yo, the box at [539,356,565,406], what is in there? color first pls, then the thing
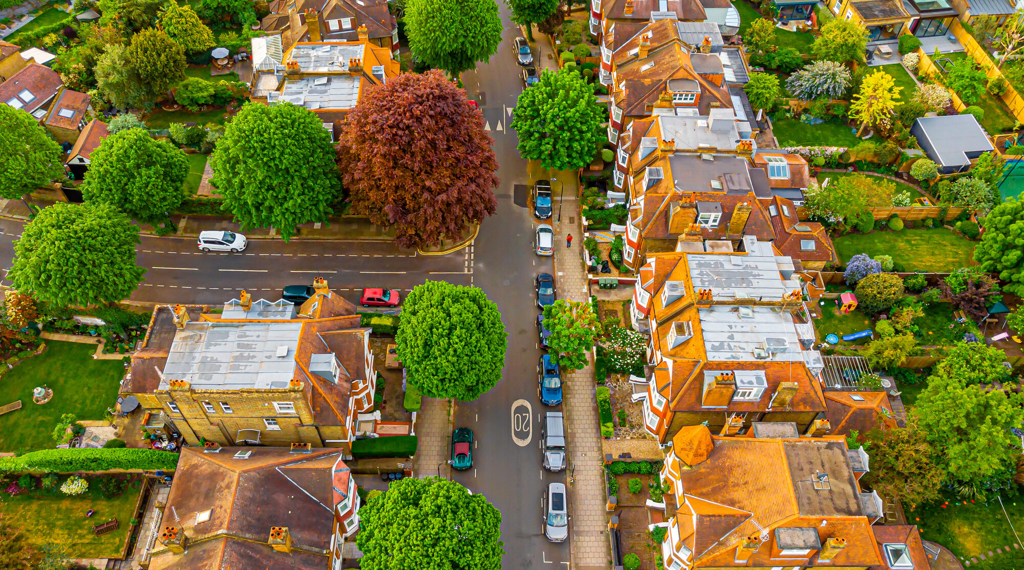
blue car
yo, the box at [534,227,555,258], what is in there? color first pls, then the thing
white car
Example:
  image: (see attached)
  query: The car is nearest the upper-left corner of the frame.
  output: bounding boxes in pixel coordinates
[197,232,247,254]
